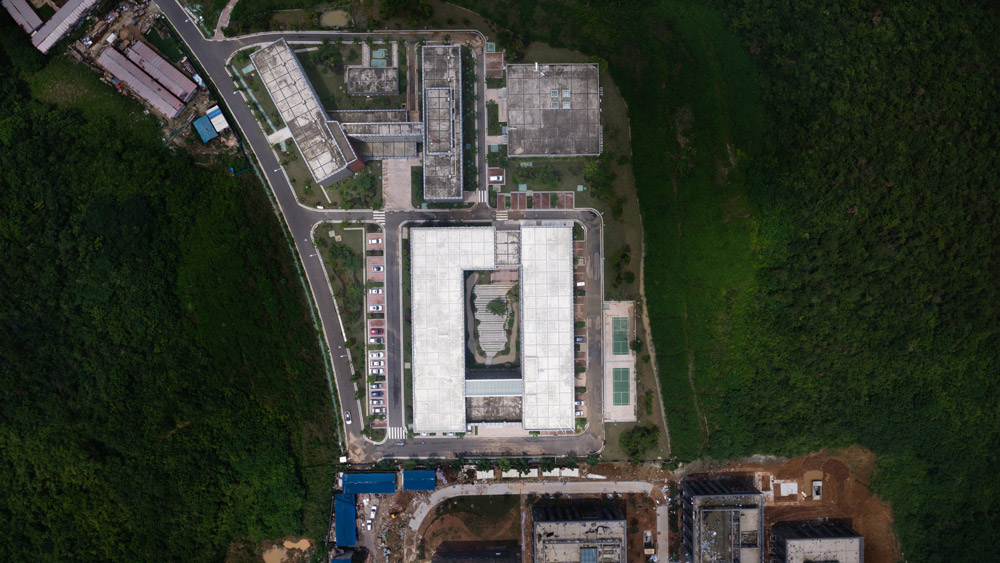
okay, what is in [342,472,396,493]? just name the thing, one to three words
shed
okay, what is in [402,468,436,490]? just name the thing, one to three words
shed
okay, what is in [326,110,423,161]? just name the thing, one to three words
building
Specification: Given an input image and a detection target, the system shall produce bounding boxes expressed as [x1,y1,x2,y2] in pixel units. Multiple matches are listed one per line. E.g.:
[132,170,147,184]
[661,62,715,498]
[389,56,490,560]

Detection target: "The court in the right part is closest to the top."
[612,317,630,354]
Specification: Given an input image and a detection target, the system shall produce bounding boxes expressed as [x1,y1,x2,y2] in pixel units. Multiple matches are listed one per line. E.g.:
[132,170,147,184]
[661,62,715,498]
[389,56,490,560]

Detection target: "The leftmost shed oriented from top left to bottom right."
[1,0,46,34]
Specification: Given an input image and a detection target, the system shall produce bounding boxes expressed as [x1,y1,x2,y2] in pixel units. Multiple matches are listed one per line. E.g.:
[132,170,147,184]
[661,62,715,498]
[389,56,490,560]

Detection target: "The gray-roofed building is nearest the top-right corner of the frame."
[503,62,604,160]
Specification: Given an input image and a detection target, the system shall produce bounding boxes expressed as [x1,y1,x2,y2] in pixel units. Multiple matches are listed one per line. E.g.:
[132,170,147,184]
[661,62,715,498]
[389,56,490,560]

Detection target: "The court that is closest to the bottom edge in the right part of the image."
[613,368,630,405]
